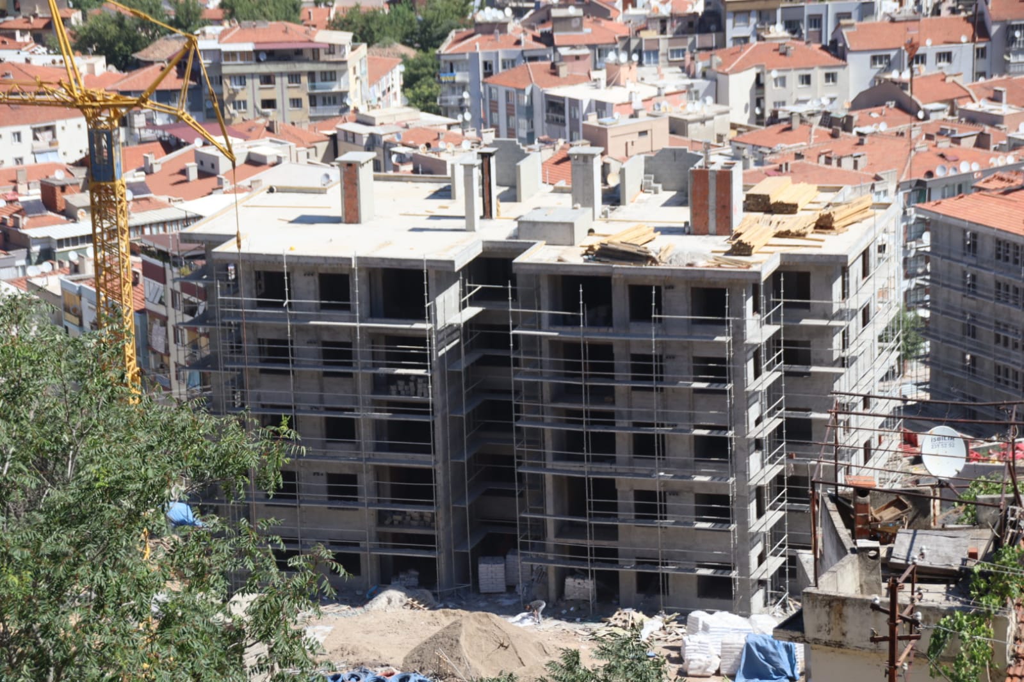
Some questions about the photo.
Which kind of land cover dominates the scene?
buildings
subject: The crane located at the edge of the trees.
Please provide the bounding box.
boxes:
[0,0,255,626]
